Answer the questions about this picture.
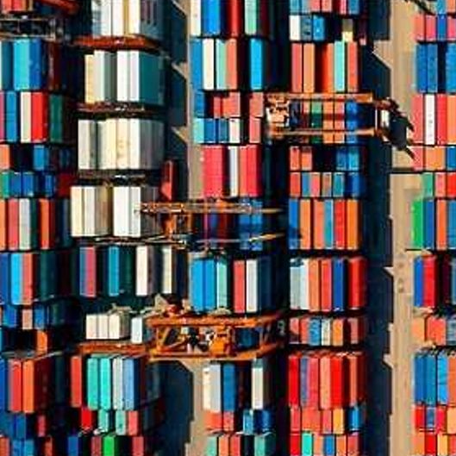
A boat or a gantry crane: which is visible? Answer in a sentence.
Visible in the photo is a gantry crane.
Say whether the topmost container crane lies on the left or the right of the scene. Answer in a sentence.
You can find the topmost container crane on the left side of the picture.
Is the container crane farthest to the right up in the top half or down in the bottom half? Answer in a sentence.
It is in the top half that the container crane farthest to the right appears.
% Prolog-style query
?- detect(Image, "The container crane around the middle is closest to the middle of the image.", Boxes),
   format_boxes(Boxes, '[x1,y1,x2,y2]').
[143,198,284,249]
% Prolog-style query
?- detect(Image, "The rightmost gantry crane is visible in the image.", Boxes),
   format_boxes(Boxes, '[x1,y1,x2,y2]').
[266,91,392,153]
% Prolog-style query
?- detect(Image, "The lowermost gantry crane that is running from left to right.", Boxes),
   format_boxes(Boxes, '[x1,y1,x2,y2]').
[148,296,287,357]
